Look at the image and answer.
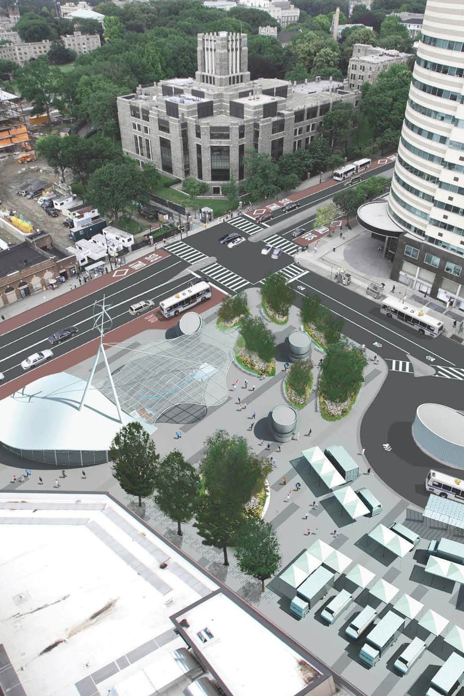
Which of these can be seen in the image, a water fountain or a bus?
bus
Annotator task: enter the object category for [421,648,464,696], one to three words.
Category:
truck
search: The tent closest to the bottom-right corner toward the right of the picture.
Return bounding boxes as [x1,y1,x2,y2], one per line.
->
[438,621,464,656]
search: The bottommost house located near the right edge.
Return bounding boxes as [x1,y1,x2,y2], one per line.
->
[400,400,464,471]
